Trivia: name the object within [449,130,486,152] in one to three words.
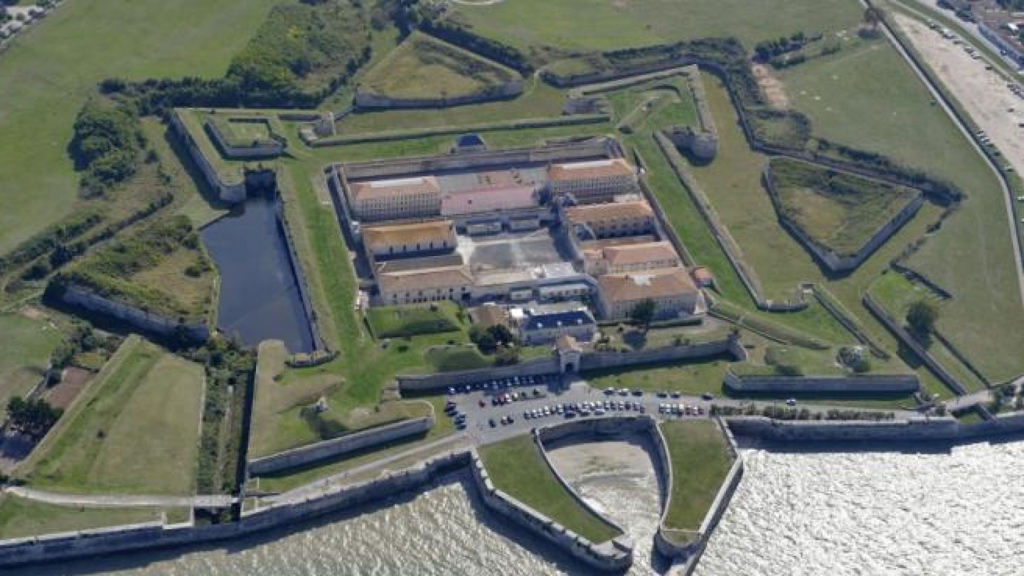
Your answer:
building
